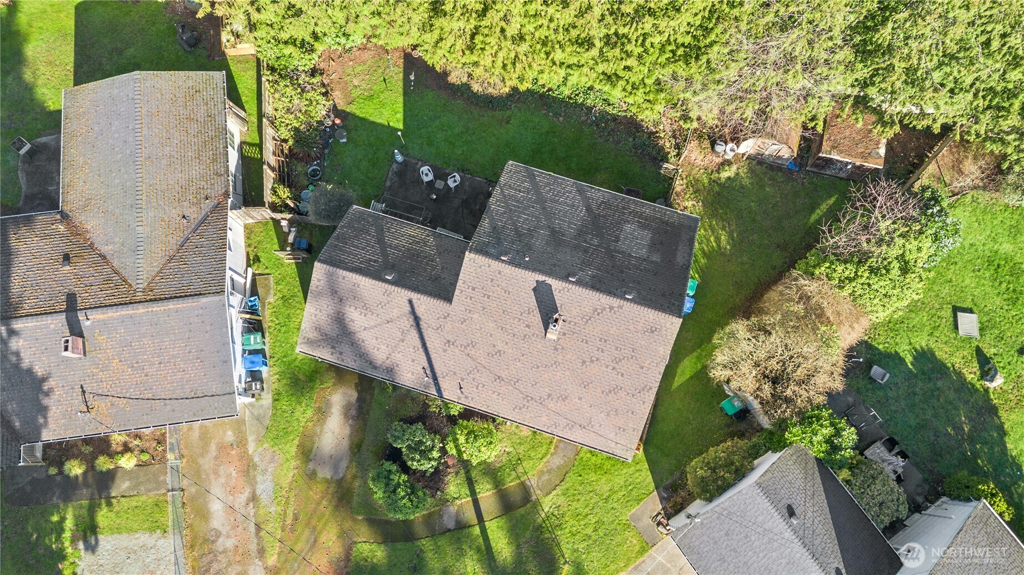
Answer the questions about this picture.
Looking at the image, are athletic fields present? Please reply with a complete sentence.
No, no athletic field can be seen from above.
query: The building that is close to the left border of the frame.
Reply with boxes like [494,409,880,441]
[0,65,260,470]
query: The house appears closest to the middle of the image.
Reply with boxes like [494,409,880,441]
[296,157,700,462]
